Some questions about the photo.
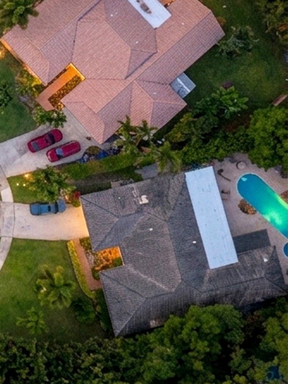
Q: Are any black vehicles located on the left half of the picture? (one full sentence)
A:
No, no black vehicle is visible on the left half of the picture.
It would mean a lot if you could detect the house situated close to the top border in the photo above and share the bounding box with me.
[0,0,227,144]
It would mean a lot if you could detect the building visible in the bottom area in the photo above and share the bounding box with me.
[75,166,288,337]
